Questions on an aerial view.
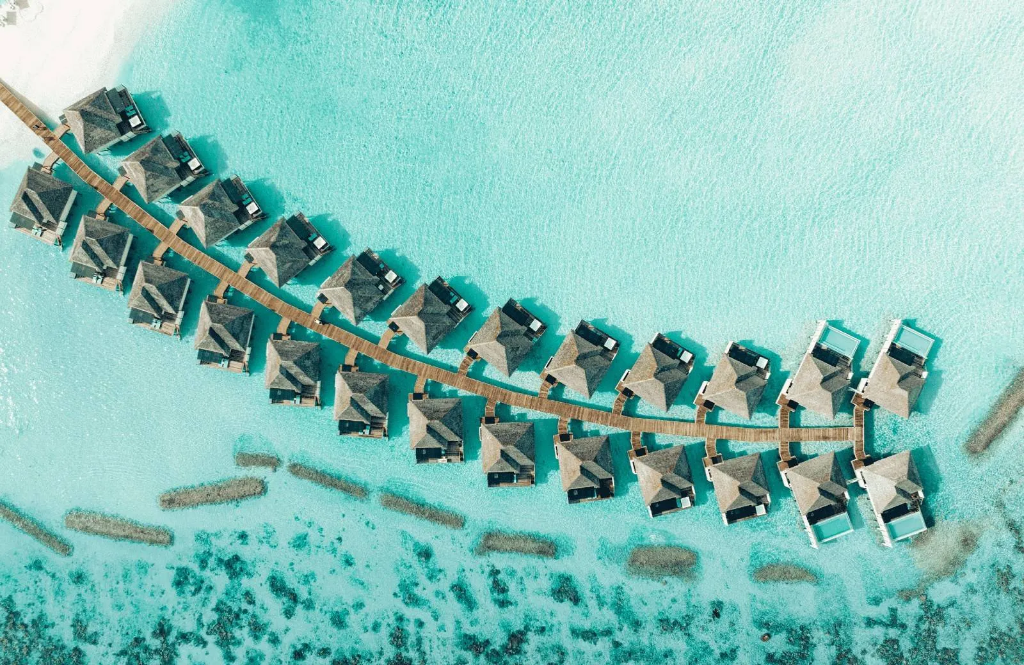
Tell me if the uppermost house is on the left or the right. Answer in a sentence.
The uppermost house sits on the left side.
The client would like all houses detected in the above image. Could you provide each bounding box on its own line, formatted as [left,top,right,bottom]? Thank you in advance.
[845,451,925,548]
[316,246,406,326]
[333,361,391,437]
[554,430,615,505]
[408,389,464,463]
[692,340,769,420]
[62,83,159,158]
[463,296,548,377]
[67,209,144,296]
[539,318,620,399]
[772,451,850,548]
[844,319,927,419]
[626,443,694,519]
[615,331,696,412]
[385,274,474,354]
[479,413,535,488]
[193,292,262,374]
[245,209,338,288]
[700,452,771,527]
[178,174,272,248]
[7,162,89,251]
[772,320,851,420]
[127,254,201,338]
[265,331,325,407]
[120,130,216,205]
